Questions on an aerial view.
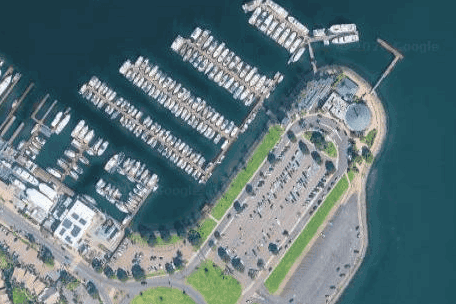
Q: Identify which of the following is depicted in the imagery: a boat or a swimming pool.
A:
boat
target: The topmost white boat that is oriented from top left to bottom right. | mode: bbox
[268,0,289,17]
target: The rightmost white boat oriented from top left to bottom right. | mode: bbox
[289,16,310,34]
